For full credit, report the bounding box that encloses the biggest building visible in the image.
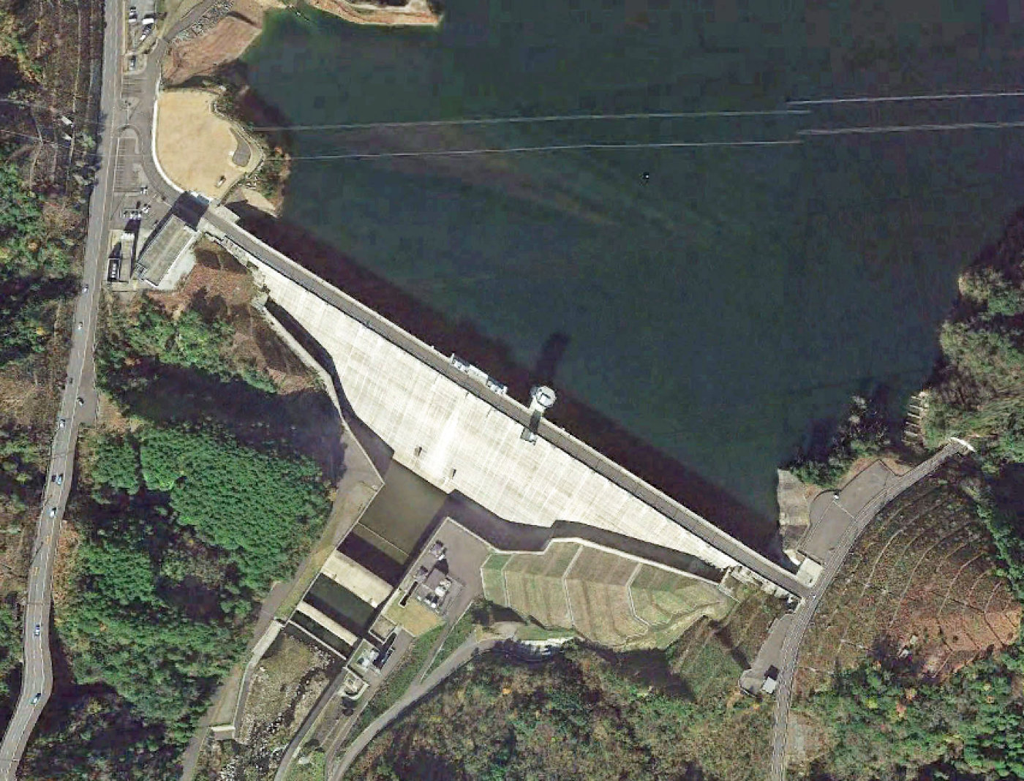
[138,215,198,287]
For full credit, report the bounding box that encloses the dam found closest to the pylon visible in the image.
[201,202,805,613]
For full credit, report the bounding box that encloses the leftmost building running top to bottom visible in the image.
[120,233,135,282]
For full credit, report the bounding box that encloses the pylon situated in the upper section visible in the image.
[61,117,89,148]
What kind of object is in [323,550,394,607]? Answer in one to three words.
dam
